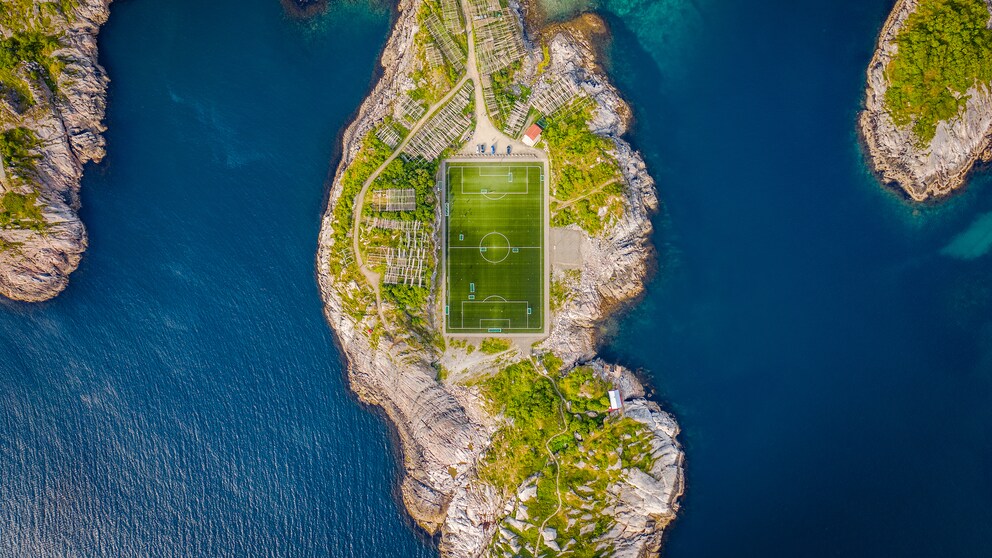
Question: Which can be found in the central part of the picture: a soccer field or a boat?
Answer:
soccer field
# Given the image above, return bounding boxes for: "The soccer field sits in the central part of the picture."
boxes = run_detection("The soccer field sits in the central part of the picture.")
[442,159,549,337]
